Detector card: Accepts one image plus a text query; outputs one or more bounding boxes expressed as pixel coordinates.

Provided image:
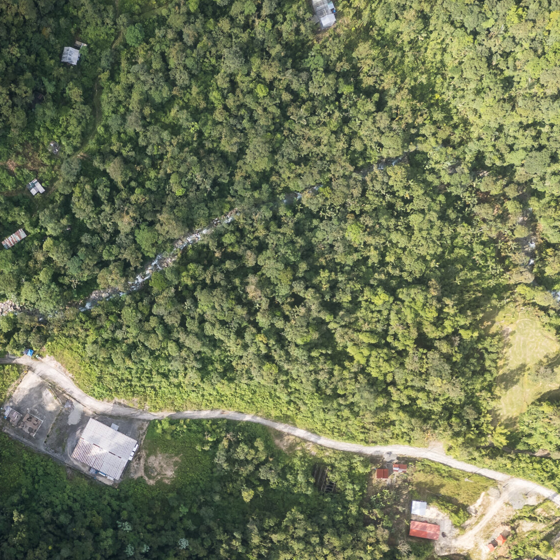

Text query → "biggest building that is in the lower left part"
[71,418,137,480]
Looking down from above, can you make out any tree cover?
Yes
